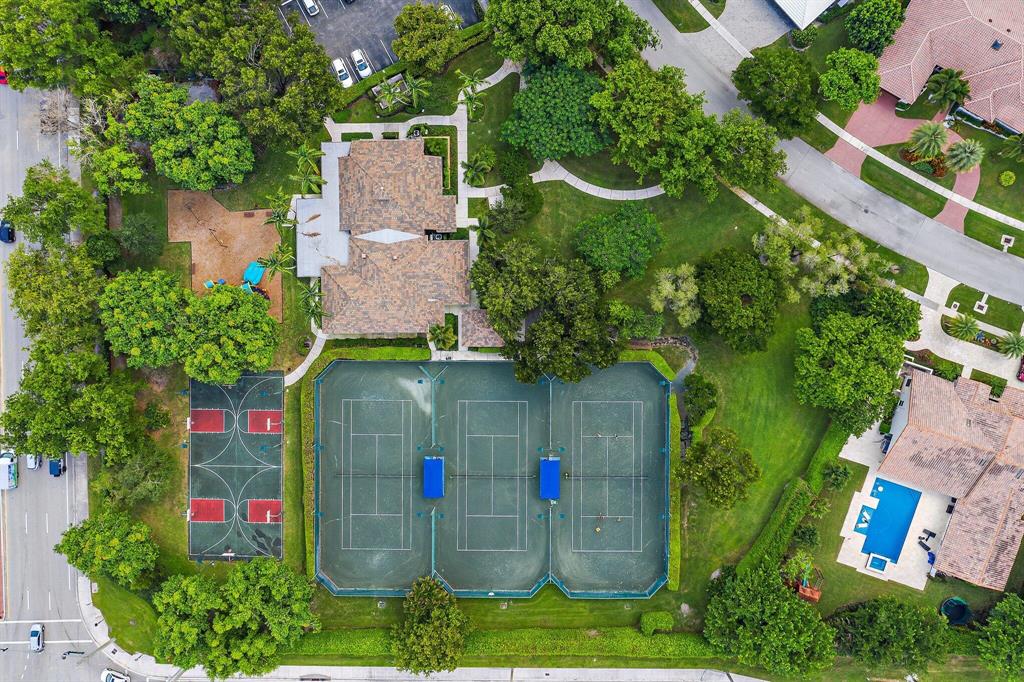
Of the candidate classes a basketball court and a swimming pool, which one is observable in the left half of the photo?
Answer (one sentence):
What appears in the left half of the photo is a basketball court.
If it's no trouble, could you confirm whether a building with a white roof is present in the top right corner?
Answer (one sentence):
Yes, there is a building with a white roof in the top right corner.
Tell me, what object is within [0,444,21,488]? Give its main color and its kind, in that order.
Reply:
white truck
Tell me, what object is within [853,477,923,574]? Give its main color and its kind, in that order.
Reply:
blue swimming pool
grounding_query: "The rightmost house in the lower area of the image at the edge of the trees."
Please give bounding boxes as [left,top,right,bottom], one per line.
[878,369,1024,590]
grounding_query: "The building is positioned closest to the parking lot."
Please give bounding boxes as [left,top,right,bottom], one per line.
[296,139,470,333]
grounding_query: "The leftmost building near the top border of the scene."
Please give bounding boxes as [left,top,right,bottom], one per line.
[769,0,833,29]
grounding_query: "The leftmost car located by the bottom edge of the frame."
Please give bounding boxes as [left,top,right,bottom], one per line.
[28,623,46,653]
